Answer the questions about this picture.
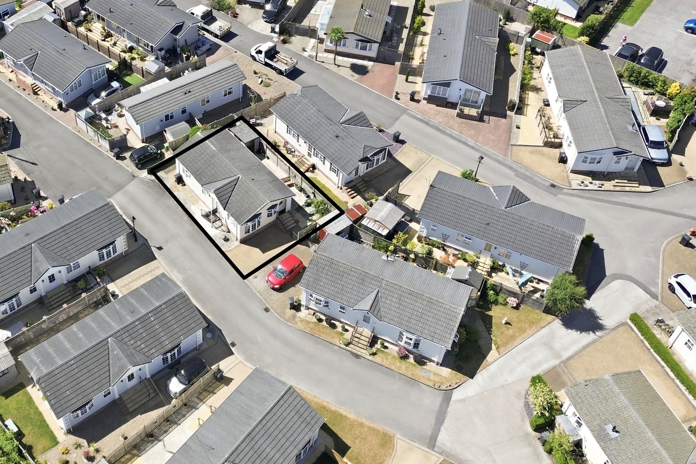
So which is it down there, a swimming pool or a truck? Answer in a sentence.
There is a truck in the scene.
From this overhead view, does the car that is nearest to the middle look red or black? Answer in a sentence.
The car that is nearest to the middle is red.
